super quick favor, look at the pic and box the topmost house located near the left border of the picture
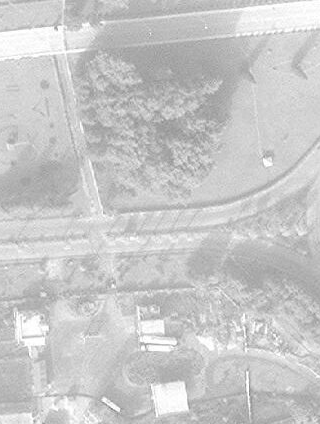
[16,312,49,357]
